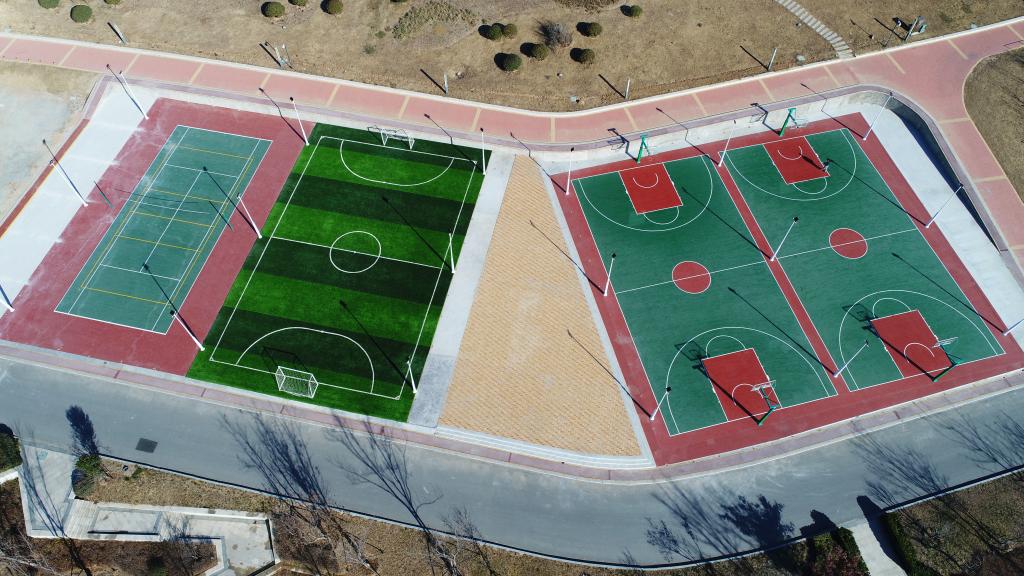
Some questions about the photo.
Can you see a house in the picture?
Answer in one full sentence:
No, no house is visible in the scene.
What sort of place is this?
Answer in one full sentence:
This image shows a sports ground.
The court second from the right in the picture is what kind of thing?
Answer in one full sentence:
In the photo, the court second from the right shows up as a basketball court.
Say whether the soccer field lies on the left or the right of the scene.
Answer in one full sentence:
The soccer field sits on the left side.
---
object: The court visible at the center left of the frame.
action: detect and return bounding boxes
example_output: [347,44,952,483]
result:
[0,98,315,377]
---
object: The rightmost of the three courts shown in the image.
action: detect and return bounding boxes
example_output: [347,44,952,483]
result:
[710,113,1024,418]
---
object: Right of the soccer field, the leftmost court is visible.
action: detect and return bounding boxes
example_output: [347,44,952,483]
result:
[550,143,849,466]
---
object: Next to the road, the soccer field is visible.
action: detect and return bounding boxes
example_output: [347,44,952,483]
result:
[187,122,492,423]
